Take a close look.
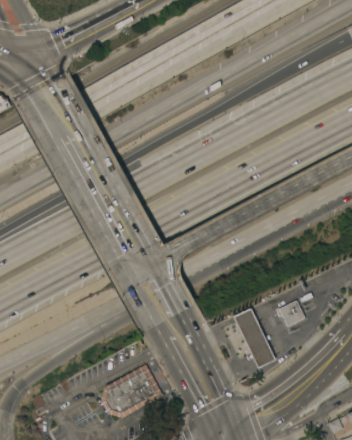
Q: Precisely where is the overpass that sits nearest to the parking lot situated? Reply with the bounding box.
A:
[9,69,209,334]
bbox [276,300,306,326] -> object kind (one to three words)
building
